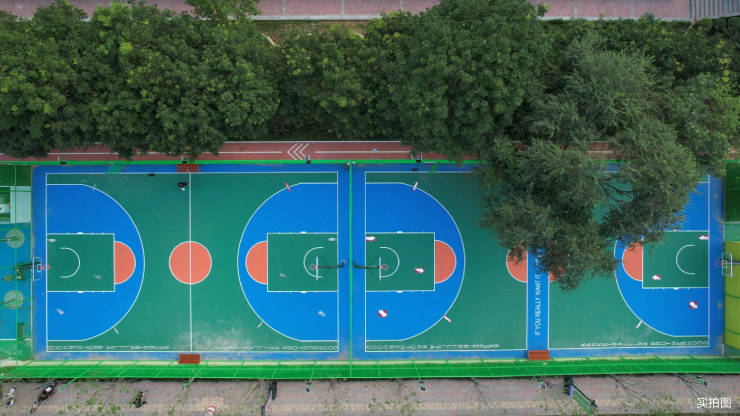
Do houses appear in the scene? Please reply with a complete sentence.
No, there is no house in the image.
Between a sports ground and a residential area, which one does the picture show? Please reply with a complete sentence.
It's a sports ground.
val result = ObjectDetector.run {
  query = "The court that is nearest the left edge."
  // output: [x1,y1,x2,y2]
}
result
[0,164,31,361]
